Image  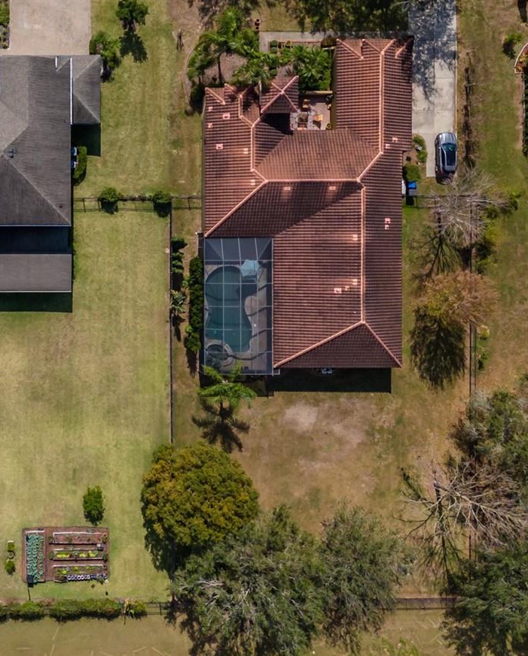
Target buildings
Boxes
[203,33,414,368]
[0,51,100,225]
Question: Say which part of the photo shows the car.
top right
